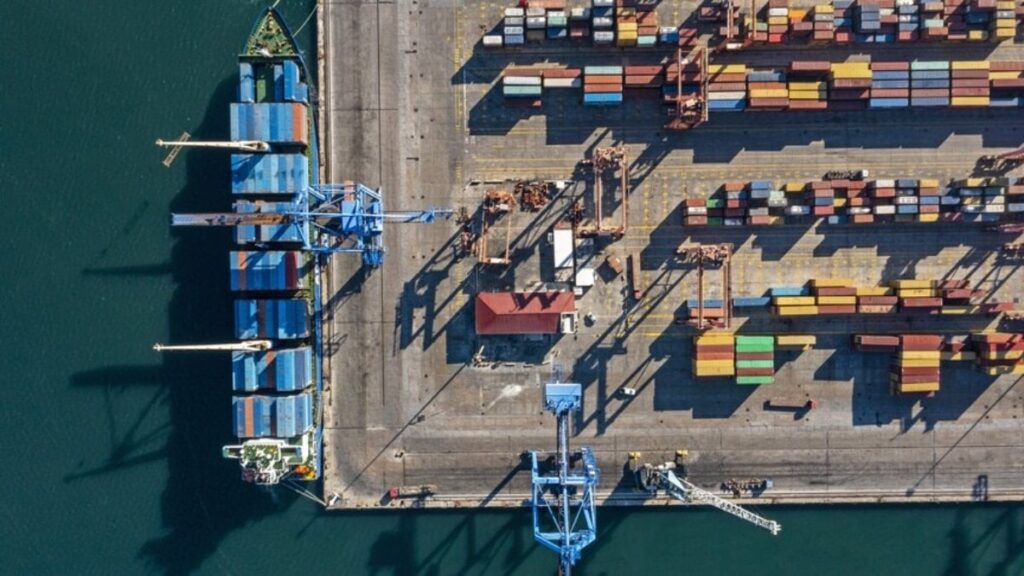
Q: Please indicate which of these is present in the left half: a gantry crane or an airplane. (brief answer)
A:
gantry crane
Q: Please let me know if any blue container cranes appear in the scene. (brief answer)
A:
Yes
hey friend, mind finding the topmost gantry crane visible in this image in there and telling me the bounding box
[709,0,756,62]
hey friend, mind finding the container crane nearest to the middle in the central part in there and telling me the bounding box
[477,194,515,269]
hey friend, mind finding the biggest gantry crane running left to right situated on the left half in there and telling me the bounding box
[176,182,448,270]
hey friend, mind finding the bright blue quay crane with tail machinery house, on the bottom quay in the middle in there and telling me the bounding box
[521,362,600,576]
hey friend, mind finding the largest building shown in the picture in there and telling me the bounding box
[475,291,578,336]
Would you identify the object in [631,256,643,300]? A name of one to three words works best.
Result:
vehicle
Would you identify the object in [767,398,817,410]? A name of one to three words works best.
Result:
vehicle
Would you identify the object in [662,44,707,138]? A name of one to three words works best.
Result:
container crane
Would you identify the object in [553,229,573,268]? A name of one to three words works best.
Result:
shed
